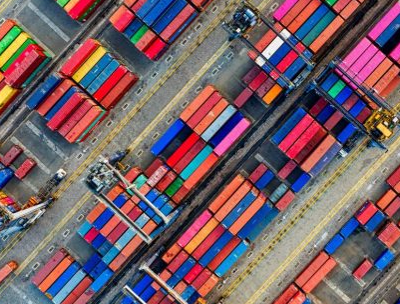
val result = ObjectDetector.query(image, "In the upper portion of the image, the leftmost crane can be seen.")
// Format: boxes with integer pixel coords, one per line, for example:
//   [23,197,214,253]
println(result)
[221,0,320,94]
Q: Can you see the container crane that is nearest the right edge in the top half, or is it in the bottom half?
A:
top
